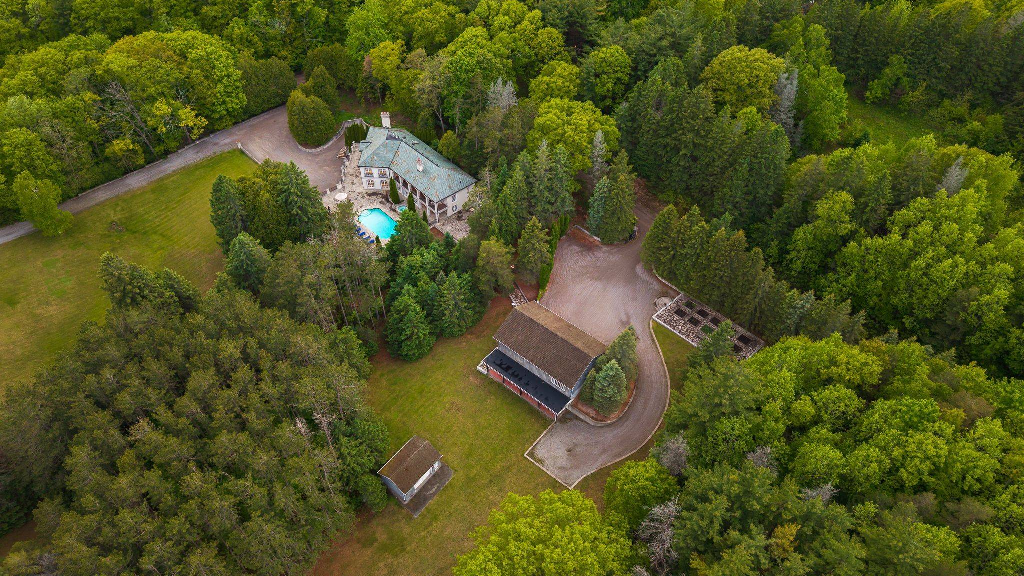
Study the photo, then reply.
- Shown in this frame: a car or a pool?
pool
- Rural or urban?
rural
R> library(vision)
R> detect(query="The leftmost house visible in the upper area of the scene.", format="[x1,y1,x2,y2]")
[358,110,477,225]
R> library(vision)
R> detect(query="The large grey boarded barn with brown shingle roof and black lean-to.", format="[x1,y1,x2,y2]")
[480,302,611,422]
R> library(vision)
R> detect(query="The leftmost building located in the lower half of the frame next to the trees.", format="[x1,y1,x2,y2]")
[377,436,443,502]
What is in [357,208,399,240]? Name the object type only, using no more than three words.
swimming pool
